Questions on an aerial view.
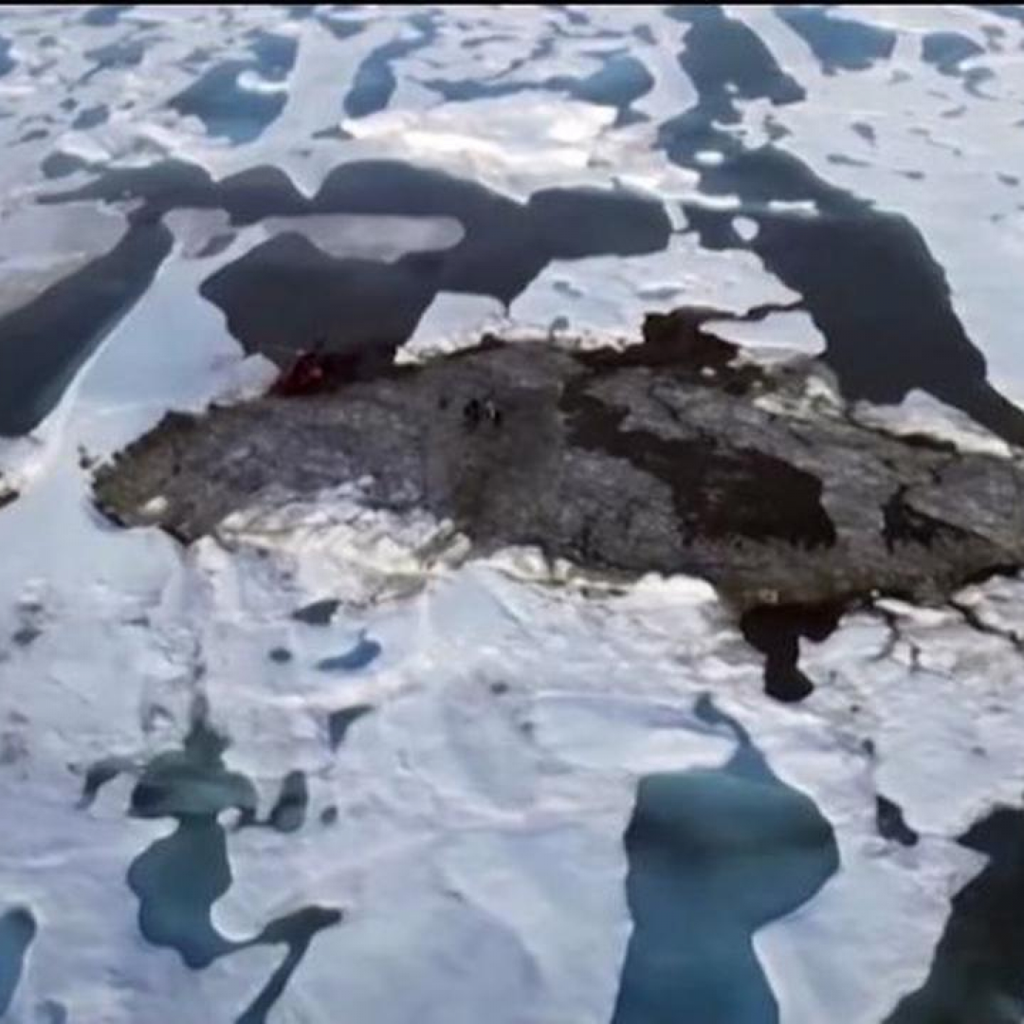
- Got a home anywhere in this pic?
No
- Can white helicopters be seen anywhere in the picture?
No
